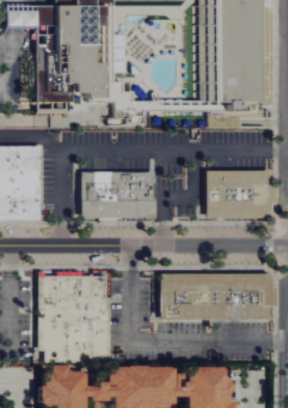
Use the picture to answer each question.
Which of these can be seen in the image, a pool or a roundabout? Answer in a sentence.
The one in the frame is a pool.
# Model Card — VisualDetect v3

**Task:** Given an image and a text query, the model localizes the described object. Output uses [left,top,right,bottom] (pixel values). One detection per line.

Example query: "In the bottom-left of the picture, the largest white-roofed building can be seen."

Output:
[34,270,112,361]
